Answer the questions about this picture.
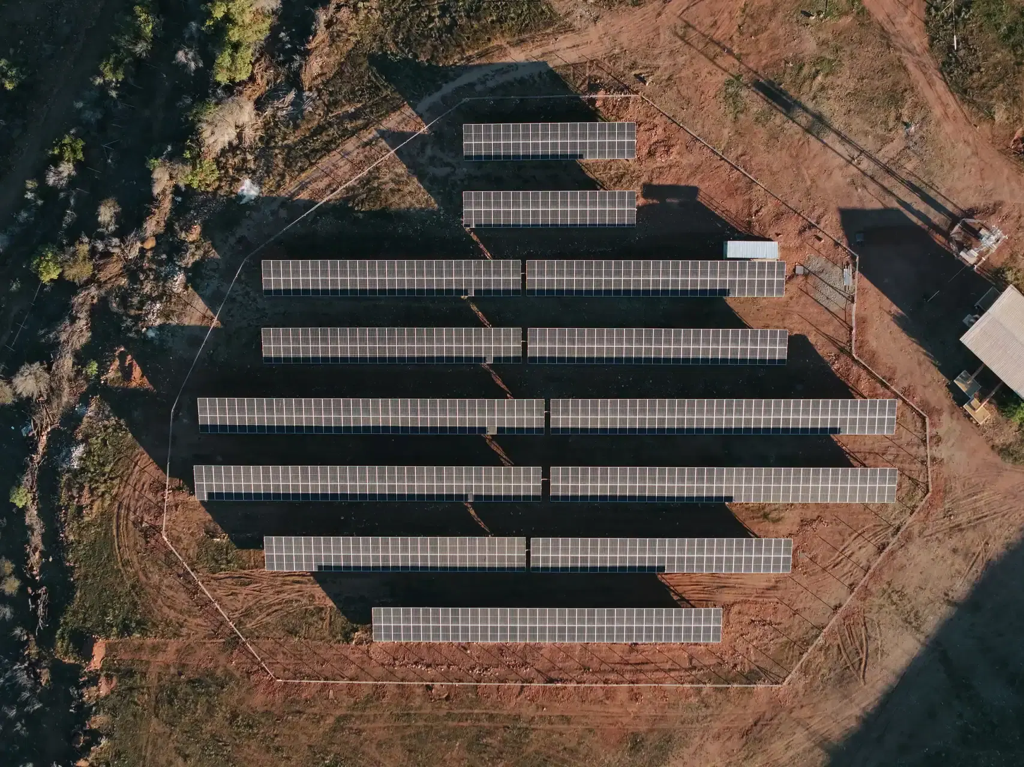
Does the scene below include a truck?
No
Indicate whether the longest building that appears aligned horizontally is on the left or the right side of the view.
right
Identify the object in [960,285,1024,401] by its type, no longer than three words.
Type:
building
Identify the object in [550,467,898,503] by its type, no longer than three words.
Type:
solar array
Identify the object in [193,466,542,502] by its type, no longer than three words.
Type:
solar array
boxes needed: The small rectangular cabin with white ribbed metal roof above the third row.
[720,241,778,261]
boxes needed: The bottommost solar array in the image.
[372,608,722,643]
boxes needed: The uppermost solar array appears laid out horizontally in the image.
[463,122,636,160]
